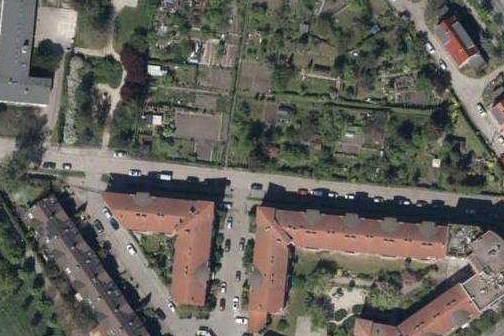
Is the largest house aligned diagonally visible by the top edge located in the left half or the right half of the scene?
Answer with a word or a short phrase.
right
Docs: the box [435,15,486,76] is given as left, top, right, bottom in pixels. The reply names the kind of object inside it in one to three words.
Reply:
house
